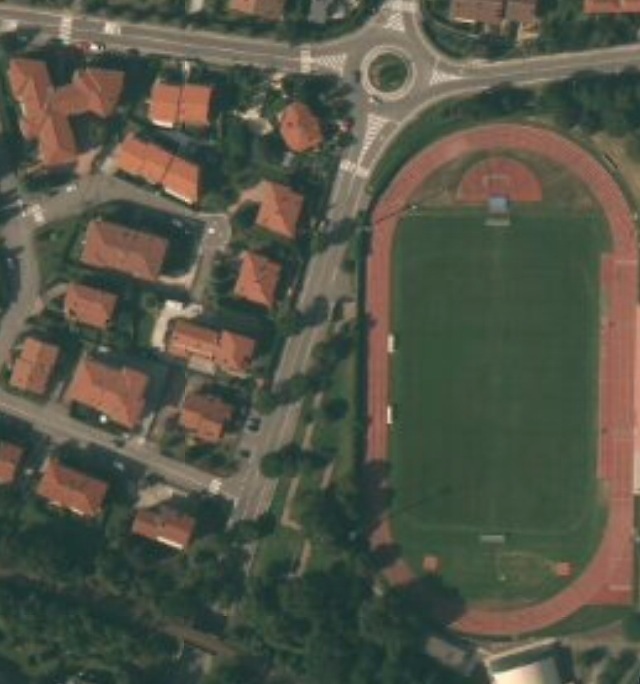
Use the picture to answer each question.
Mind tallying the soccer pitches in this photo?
one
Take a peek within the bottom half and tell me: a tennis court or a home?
home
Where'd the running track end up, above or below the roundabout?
below it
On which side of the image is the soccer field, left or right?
right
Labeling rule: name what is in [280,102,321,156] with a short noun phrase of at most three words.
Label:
house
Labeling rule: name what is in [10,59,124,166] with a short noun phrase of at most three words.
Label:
building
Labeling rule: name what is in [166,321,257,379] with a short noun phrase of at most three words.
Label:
house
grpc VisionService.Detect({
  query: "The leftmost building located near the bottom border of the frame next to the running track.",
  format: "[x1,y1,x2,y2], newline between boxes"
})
[420,637,467,672]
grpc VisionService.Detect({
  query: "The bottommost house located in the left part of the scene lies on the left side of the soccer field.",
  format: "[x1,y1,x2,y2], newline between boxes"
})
[132,507,196,554]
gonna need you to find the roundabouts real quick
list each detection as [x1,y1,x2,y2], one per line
[302,0,490,169]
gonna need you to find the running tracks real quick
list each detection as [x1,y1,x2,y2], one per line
[365,124,637,634]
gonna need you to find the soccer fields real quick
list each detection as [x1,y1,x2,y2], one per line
[387,146,615,612]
